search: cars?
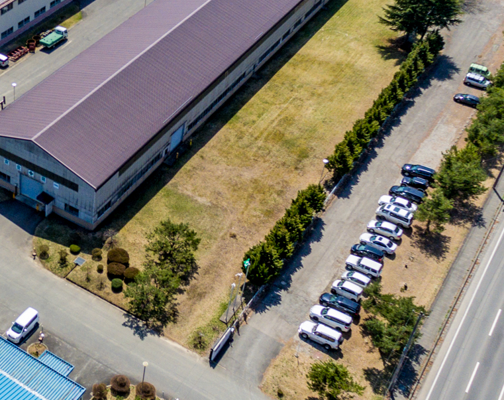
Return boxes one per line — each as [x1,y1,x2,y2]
[6,305,41,341]
[0,55,11,68]
[364,220,405,244]
[344,254,386,280]
[375,205,415,229]
[461,72,493,90]
[450,94,484,110]
[379,195,418,210]
[298,319,346,350]
[338,268,376,292]
[347,242,388,263]
[357,234,398,258]
[389,185,428,206]
[318,292,359,320]
[307,305,355,336]
[401,175,429,191]
[399,162,438,182]
[467,63,491,80]
[325,275,370,303]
